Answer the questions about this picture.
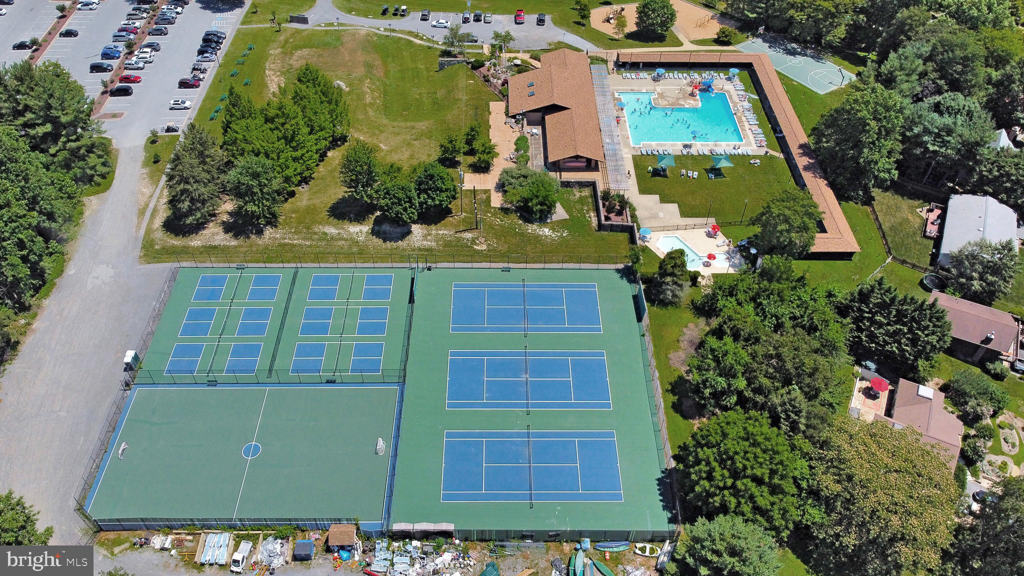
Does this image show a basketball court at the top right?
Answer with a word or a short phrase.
Yes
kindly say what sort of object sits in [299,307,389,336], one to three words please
sports court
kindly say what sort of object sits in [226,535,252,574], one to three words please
truck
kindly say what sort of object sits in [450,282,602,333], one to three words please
tennis court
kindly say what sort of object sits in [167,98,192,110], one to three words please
vehicle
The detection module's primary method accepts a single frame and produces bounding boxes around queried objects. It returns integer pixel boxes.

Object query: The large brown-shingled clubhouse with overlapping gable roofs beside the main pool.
[509,48,605,175]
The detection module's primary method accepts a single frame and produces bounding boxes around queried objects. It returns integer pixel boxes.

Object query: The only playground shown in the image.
[591,0,738,41]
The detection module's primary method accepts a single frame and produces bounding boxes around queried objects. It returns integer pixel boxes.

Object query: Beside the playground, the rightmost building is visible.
[617,51,862,261]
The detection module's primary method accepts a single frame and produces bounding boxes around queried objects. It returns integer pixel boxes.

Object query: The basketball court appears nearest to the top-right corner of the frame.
[735,32,856,94]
